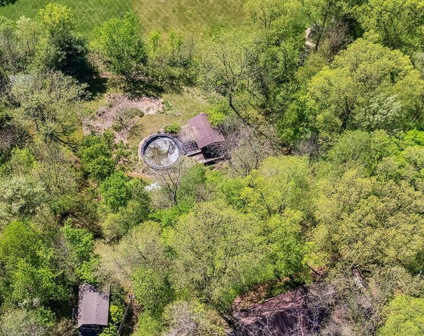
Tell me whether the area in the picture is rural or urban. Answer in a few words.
rural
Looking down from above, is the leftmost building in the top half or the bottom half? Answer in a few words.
bottom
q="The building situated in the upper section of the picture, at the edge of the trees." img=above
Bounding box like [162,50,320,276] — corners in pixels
[188,114,225,155]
